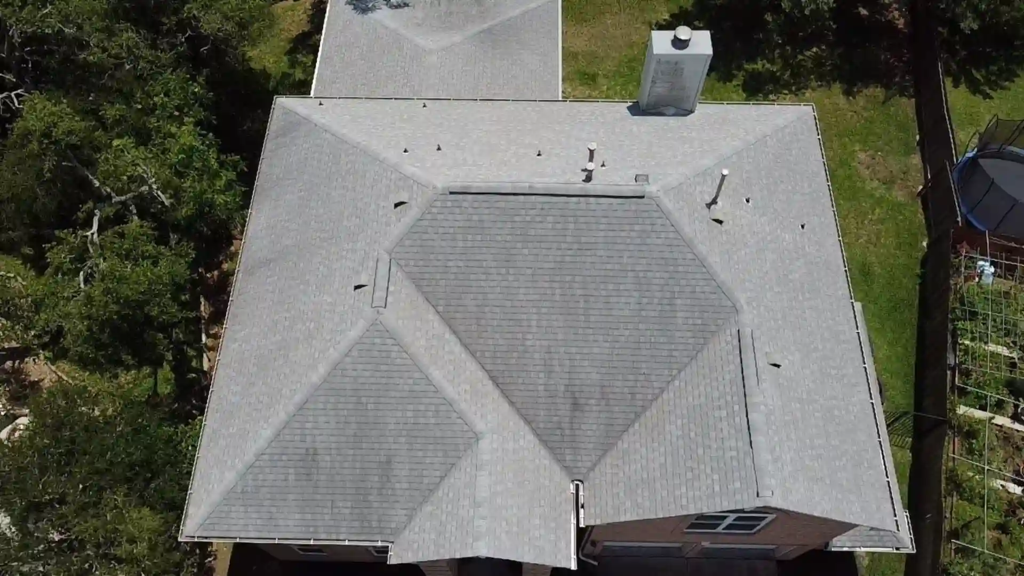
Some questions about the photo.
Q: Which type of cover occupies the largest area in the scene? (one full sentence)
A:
The scene is dominated by buildings.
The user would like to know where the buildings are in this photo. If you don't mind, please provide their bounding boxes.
[178,0,920,576]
